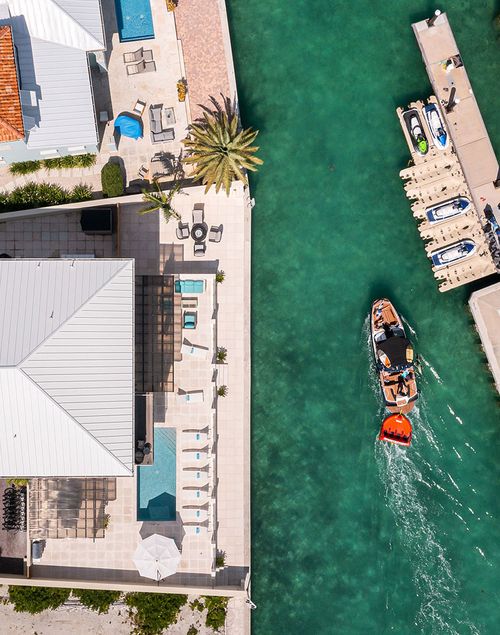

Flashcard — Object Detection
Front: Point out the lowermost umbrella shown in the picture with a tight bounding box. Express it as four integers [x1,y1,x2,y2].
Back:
[133,530,182,582]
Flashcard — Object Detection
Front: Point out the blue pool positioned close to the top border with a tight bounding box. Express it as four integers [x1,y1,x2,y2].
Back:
[113,0,158,47]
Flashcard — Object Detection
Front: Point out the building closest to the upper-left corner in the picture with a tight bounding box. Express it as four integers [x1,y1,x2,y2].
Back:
[0,0,108,164]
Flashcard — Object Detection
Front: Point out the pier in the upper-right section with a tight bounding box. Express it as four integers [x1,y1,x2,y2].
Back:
[411,14,500,272]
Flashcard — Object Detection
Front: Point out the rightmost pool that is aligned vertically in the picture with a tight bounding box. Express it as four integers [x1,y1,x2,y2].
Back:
[137,428,176,522]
